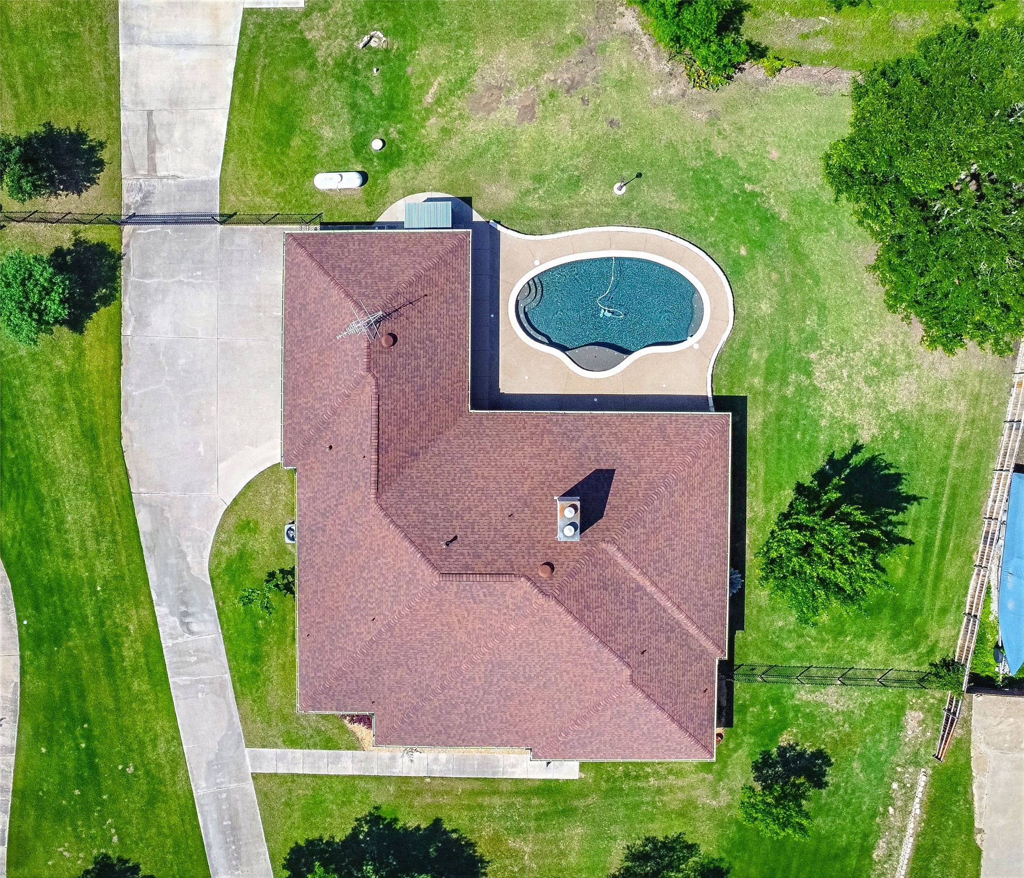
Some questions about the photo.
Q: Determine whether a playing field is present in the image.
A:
No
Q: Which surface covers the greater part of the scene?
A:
grass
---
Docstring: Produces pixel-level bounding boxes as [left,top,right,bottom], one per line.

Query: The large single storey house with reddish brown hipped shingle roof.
[281,230,731,760]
